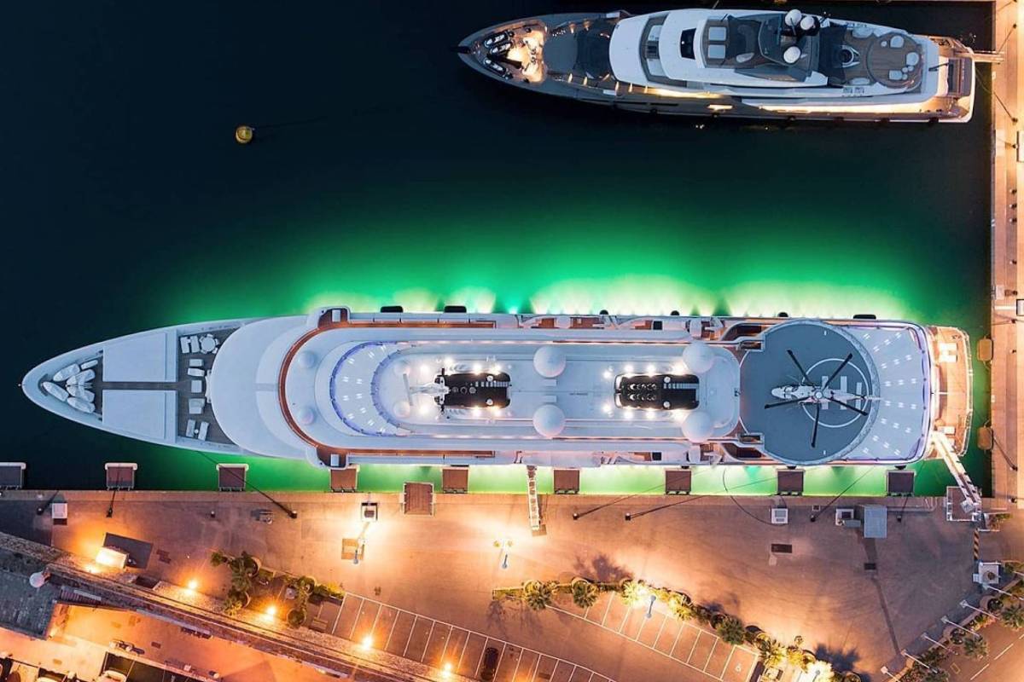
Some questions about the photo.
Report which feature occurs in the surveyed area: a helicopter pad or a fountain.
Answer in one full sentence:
The one in the frame is a helicopter pad.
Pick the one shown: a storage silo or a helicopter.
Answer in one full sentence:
There is a helicopter in the scene.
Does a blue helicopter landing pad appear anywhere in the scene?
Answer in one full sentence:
Yes, this view includes a blue helicopter landing pad.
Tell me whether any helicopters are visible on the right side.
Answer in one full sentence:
Yes, a helicopter is visible on the right side.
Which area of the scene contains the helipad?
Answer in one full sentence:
Look in the right portion of the view to spot the helipad.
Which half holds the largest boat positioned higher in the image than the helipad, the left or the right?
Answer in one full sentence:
The largest boat positioned higher in the image than the helipad is on the right side of the image.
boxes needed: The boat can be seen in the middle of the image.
[17,306,972,478]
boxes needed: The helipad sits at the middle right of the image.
[734,318,884,466]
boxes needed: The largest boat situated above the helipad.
[451,4,975,126]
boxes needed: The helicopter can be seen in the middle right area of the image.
[765,351,896,447]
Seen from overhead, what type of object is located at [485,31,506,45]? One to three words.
boat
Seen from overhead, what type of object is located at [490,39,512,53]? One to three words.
boat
